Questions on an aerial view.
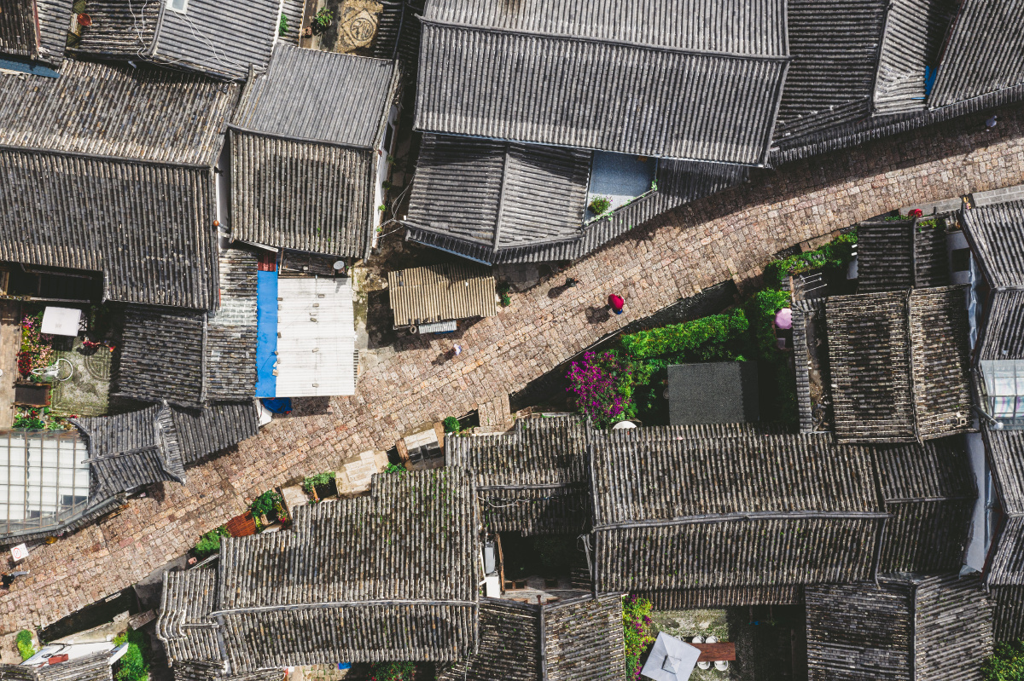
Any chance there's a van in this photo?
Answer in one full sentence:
No, the photo shows no van.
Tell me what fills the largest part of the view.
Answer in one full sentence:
The bulk of the photo consists of buildings.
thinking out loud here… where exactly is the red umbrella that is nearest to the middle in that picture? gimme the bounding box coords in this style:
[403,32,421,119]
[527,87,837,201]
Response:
[606,293,621,311]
